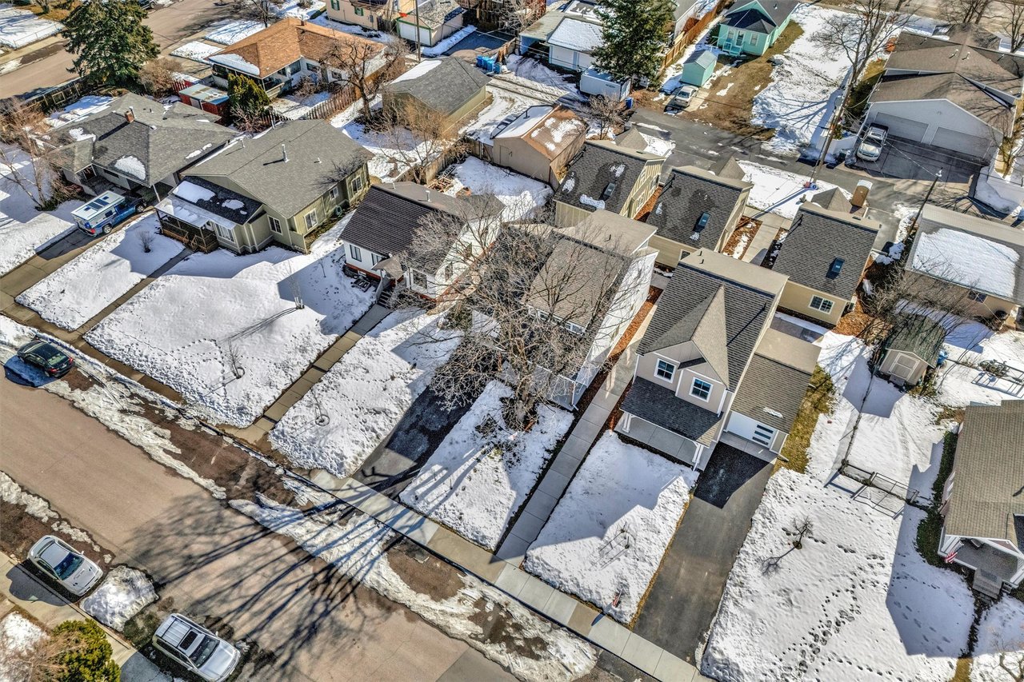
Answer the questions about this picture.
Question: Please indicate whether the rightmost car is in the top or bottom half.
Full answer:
It is in the top half that the rightmost car appears.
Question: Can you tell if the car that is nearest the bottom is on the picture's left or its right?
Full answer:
The car that is nearest the bottom is on the left side of the image.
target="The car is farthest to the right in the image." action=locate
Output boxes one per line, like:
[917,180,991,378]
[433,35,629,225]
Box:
[858,125,888,159]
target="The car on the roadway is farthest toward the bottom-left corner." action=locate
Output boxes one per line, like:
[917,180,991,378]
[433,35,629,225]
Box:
[22,531,108,600]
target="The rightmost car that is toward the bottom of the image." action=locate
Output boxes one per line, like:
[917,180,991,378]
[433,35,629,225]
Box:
[152,603,243,682]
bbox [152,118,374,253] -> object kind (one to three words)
house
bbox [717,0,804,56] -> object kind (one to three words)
house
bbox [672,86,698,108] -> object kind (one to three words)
car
